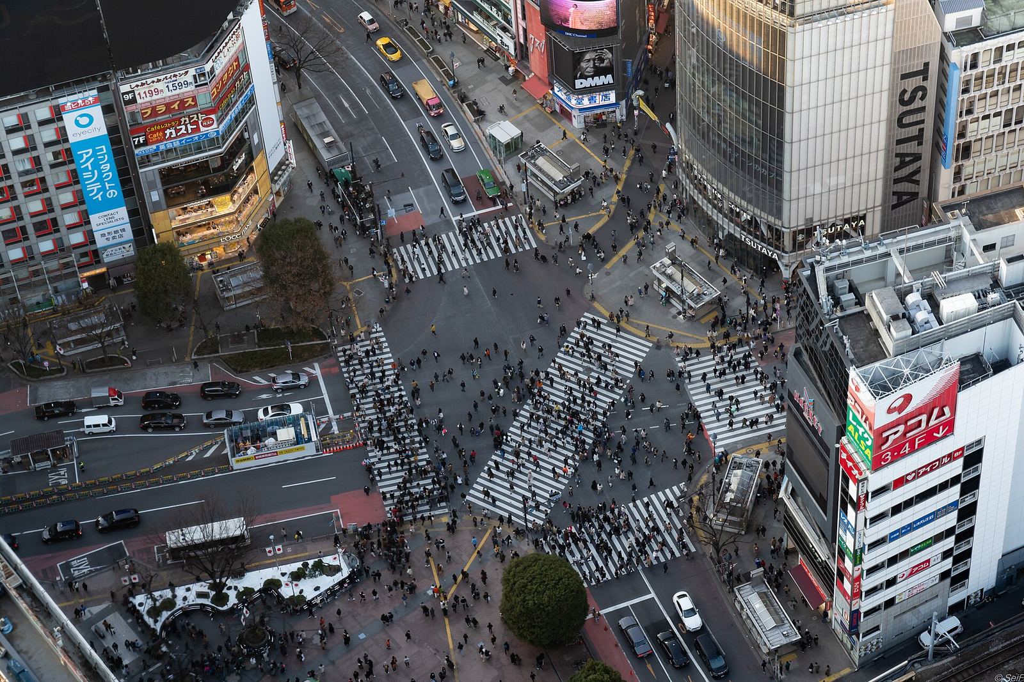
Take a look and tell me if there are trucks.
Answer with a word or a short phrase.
Yes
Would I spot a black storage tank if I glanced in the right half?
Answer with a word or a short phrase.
No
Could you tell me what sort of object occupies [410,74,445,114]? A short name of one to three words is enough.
truck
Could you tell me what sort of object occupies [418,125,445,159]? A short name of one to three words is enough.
vehicle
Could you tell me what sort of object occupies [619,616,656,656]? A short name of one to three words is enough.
car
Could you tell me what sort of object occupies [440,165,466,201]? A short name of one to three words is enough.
vehicle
